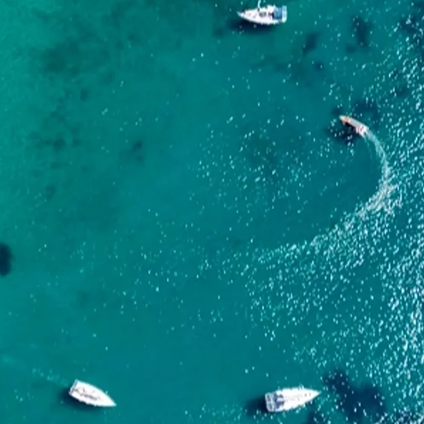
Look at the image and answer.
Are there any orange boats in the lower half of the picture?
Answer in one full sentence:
No, no orange boat is visible in the lower half of the picture.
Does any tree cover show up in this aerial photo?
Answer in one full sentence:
No, the scene doesn't show any tree cover.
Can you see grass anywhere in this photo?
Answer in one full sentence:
No, the picture contains no grass.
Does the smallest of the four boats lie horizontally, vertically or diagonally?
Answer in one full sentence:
In this picture, the smallest of the four boats is oriented diagonally.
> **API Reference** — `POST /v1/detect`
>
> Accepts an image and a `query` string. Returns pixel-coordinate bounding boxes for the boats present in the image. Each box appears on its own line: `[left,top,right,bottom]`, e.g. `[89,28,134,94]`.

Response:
[340,116,369,138]
[66,382,117,408]
[259,385,320,412]
[238,0,290,22]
